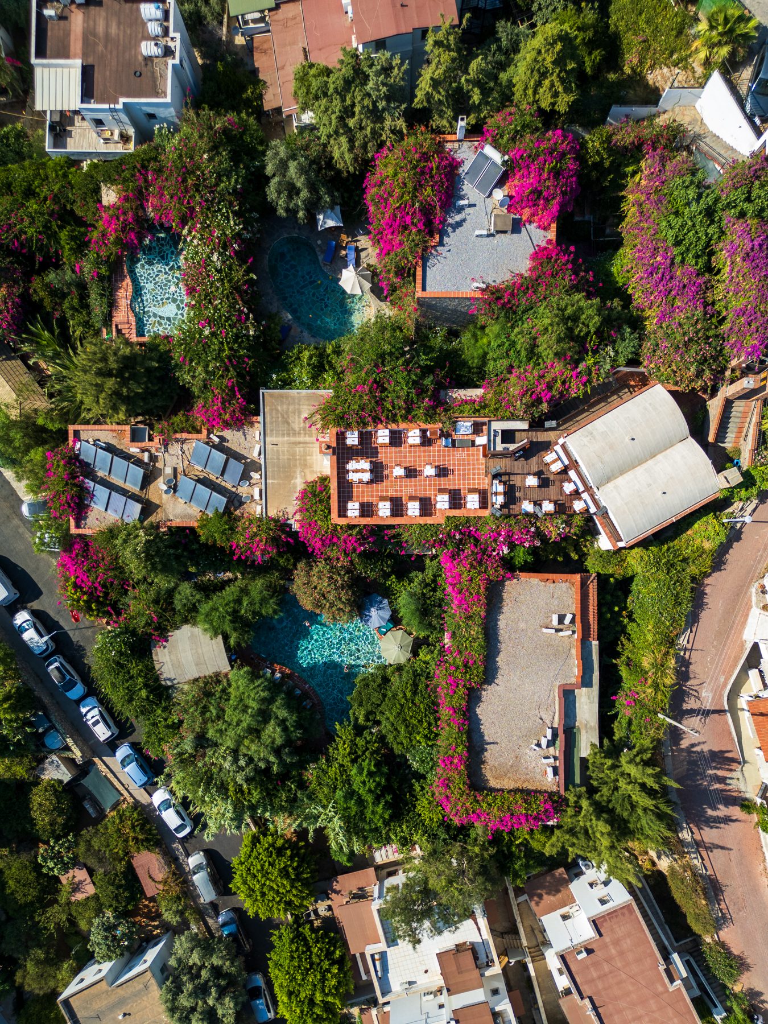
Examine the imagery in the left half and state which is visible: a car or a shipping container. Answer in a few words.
car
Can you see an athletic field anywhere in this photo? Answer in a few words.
No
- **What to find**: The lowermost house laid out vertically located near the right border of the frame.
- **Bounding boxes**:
[728,682,768,765]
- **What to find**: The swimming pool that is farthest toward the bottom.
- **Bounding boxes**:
[243,592,411,741]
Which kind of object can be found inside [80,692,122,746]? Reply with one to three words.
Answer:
car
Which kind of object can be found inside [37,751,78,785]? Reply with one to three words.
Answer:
shed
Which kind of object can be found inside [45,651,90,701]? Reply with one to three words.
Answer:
car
